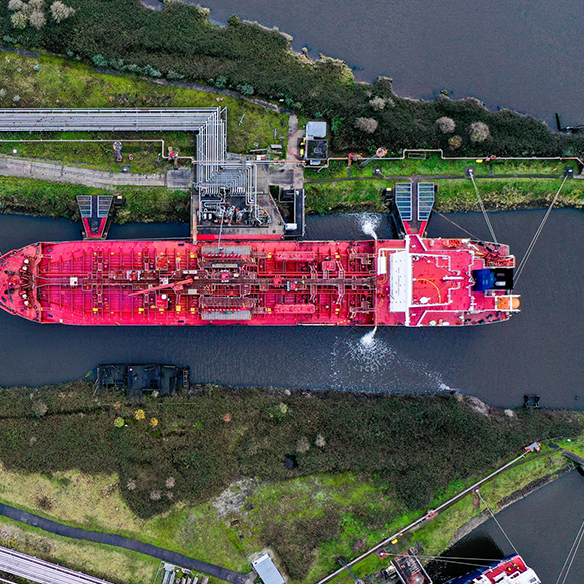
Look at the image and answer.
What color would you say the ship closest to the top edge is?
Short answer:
red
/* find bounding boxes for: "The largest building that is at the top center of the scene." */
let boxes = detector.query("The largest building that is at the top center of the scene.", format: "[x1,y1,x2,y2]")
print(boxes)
[301,122,328,167]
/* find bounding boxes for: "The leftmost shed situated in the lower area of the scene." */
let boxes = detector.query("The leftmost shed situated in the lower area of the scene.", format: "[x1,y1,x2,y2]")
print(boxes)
[251,550,285,584]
